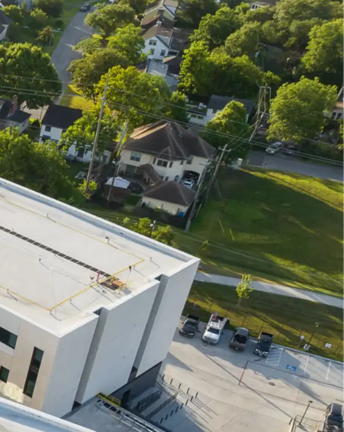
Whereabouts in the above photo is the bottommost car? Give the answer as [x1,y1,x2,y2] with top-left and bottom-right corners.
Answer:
[321,399,344,426]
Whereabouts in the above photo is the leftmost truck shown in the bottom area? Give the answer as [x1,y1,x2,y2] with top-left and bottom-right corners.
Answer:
[179,311,202,338]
